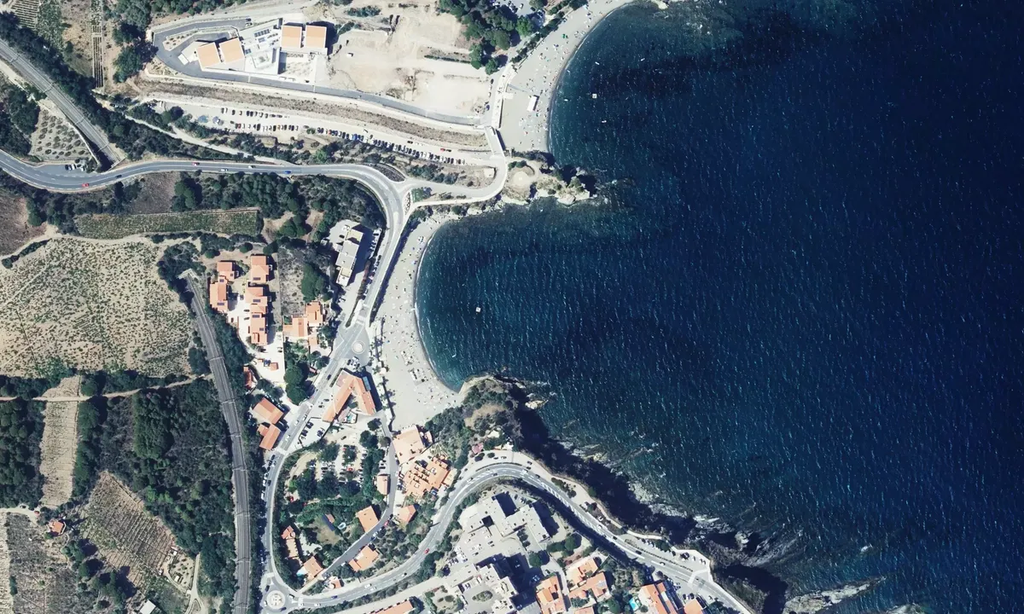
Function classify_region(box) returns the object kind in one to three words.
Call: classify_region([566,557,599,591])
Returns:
house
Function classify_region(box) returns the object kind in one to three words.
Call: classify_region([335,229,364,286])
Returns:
building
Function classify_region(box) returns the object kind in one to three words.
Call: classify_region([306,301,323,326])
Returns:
house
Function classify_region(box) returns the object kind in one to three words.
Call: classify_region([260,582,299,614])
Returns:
roundabout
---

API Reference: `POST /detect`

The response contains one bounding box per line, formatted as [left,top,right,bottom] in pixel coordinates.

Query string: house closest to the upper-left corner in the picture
[178,37,246,72]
